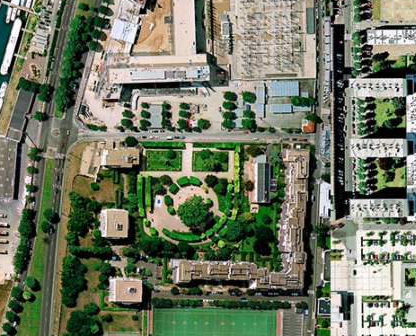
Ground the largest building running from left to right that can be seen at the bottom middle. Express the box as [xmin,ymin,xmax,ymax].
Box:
[172,258,273,288]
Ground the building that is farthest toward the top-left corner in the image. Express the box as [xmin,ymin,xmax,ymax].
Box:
[9,89,35,130]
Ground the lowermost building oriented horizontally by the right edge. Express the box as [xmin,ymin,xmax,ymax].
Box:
[350,199,407,218]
